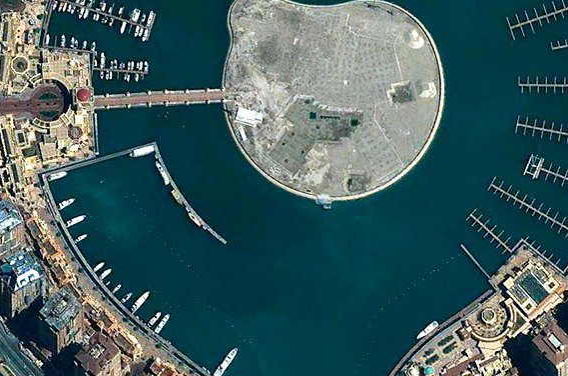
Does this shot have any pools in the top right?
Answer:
No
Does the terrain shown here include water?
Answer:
Yes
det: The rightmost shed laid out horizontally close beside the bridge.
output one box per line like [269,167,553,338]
[234,108,263,126]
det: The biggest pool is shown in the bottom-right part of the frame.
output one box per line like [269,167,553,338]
[520,275,549,305]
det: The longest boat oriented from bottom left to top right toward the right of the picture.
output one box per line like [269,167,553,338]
[420,321,440,337]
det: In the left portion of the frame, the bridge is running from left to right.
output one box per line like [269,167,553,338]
[91,86,228,109]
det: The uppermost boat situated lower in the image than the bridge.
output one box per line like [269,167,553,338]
[132,142,157,156]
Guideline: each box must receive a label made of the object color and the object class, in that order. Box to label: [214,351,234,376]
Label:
white boat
